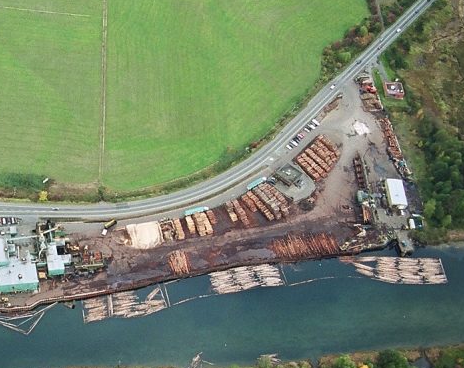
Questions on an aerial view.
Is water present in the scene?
Yes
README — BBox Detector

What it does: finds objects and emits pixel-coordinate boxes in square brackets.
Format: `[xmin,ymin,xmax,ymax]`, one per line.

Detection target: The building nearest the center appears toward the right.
[275,163,302,186]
